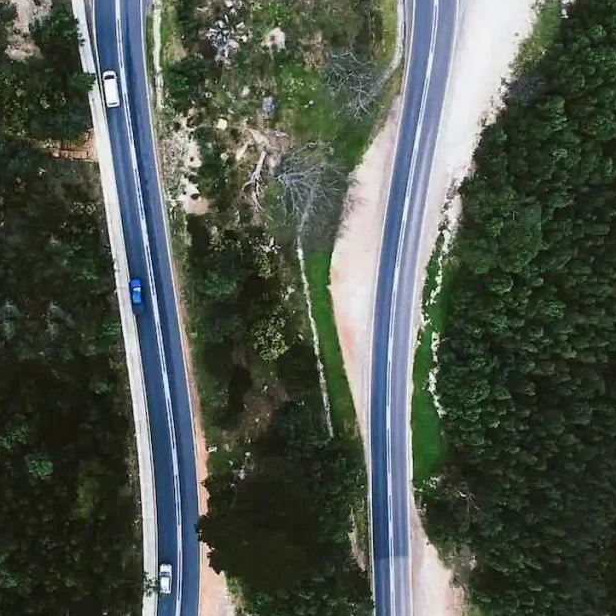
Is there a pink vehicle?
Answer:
No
